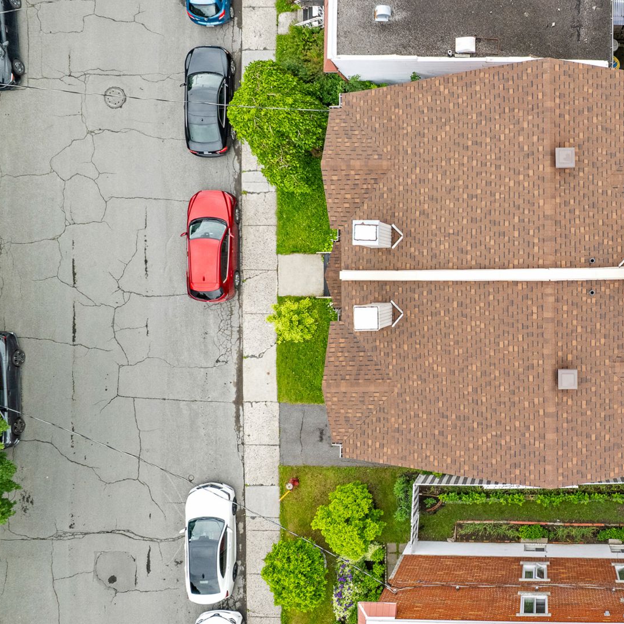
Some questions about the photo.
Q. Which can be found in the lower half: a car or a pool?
car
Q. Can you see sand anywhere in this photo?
No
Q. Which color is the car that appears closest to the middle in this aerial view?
red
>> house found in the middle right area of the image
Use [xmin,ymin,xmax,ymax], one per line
[314,57,624,491]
